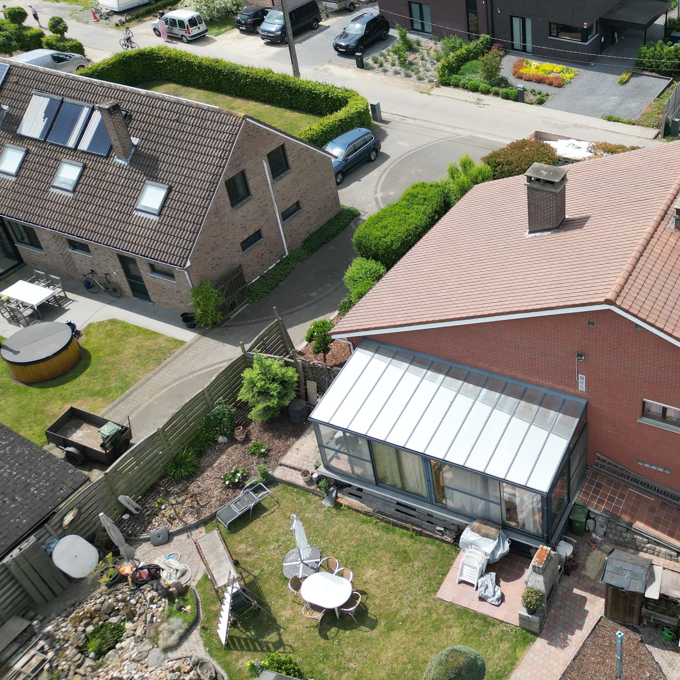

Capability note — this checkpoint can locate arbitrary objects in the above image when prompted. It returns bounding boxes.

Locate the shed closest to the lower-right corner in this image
[601,548,654,624]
